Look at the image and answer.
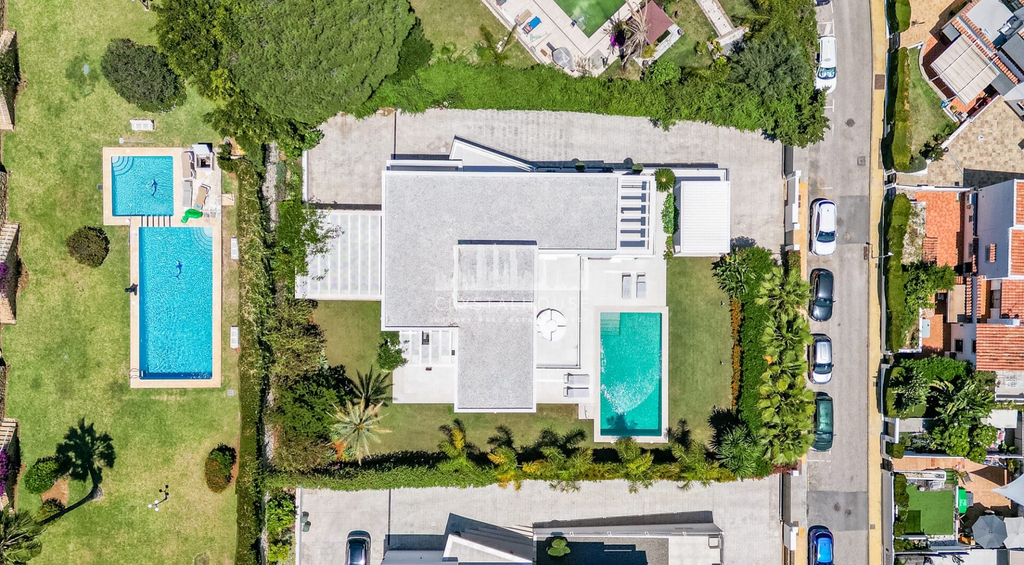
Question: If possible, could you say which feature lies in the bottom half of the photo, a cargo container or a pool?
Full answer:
The one visible in the bottom half of the photo is a pool.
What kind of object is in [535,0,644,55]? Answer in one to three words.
swimming pool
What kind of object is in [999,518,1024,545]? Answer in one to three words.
umbrella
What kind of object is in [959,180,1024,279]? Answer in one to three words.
house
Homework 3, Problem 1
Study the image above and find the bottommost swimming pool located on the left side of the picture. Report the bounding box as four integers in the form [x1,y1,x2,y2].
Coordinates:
[129,225,222,388]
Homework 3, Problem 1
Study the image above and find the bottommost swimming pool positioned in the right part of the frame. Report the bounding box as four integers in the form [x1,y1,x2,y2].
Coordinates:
[594,306,668,443]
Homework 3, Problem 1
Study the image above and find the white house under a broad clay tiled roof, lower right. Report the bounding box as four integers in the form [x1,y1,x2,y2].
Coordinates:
[941,323,1024,372]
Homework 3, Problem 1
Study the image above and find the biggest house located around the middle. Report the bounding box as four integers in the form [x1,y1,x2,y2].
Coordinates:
[382,140,656,413]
